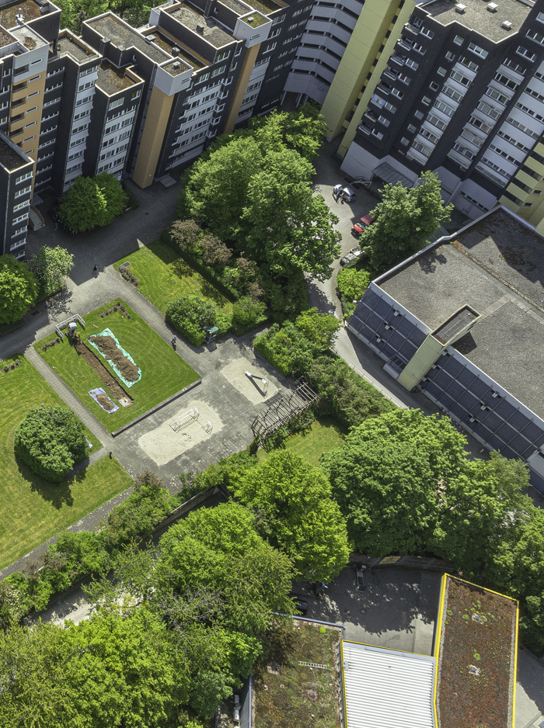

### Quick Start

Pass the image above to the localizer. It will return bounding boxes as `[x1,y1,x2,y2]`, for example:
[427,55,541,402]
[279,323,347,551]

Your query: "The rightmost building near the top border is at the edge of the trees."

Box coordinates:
[430,0,544,231]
